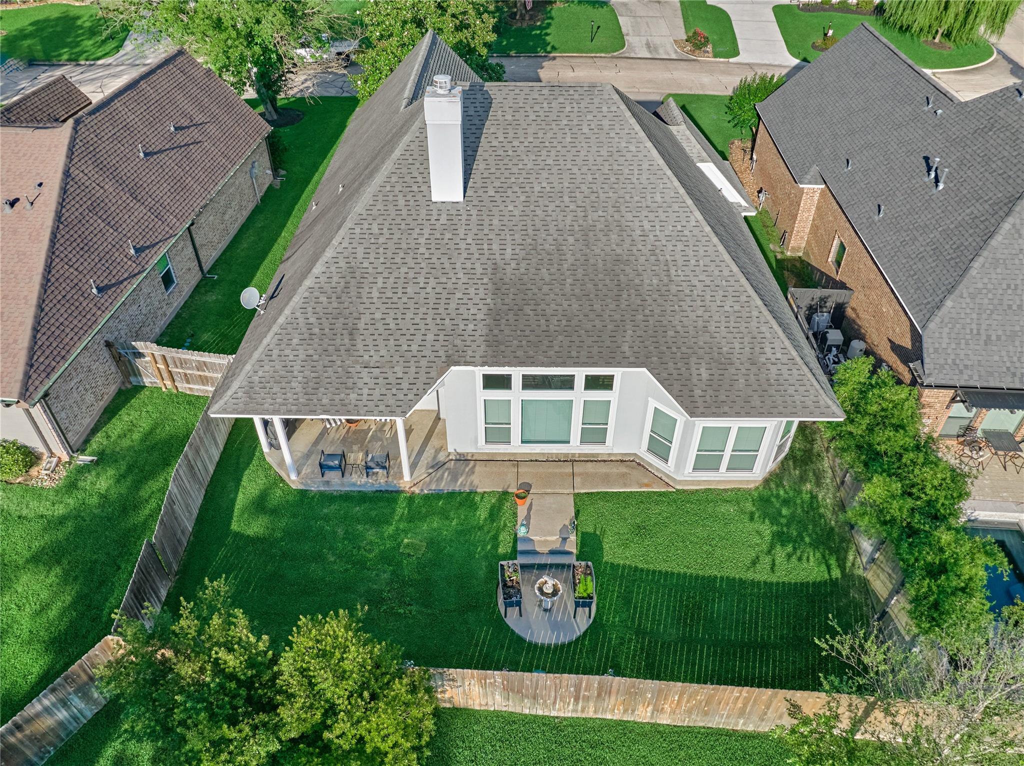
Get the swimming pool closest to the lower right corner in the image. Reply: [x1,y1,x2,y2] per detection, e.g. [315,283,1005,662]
[975,518,1024,651]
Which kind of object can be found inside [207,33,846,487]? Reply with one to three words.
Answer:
house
